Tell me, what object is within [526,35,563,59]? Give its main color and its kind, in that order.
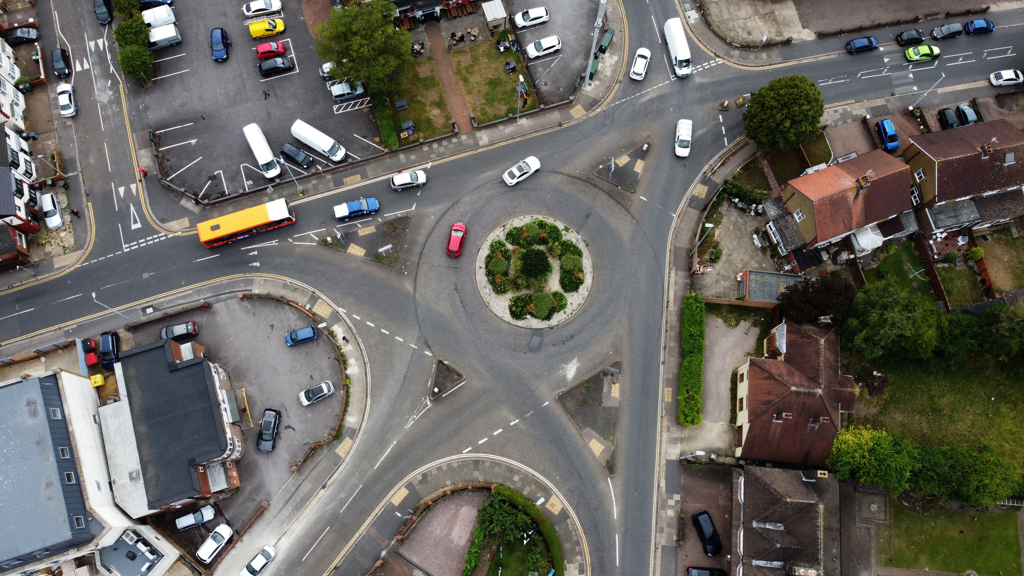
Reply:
white car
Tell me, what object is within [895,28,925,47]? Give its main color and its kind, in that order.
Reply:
black car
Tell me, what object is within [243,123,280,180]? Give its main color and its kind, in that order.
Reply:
white van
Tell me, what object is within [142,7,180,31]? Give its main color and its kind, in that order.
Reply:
white vehicle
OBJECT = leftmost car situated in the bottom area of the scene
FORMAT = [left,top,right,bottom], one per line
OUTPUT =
[98,331,120,371]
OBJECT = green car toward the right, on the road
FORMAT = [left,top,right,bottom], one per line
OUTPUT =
[904,44,940,63]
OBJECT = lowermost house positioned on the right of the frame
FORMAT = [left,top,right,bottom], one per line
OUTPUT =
[726,466,840,576]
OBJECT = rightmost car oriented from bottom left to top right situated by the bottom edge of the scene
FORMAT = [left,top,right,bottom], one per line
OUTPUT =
[240,543,278,576]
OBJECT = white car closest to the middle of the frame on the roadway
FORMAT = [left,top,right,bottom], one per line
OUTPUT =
[502,157,541,186]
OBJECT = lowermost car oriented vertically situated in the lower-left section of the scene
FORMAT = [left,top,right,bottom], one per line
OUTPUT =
[255,408,282,452]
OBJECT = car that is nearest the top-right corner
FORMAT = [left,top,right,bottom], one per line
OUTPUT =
[965,20,994,38]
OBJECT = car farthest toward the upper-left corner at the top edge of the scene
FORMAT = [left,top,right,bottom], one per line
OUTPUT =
[7,27,40,47]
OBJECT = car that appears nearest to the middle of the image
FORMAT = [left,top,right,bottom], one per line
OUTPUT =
[447,223,466,258]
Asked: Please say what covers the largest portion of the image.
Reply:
paved ground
